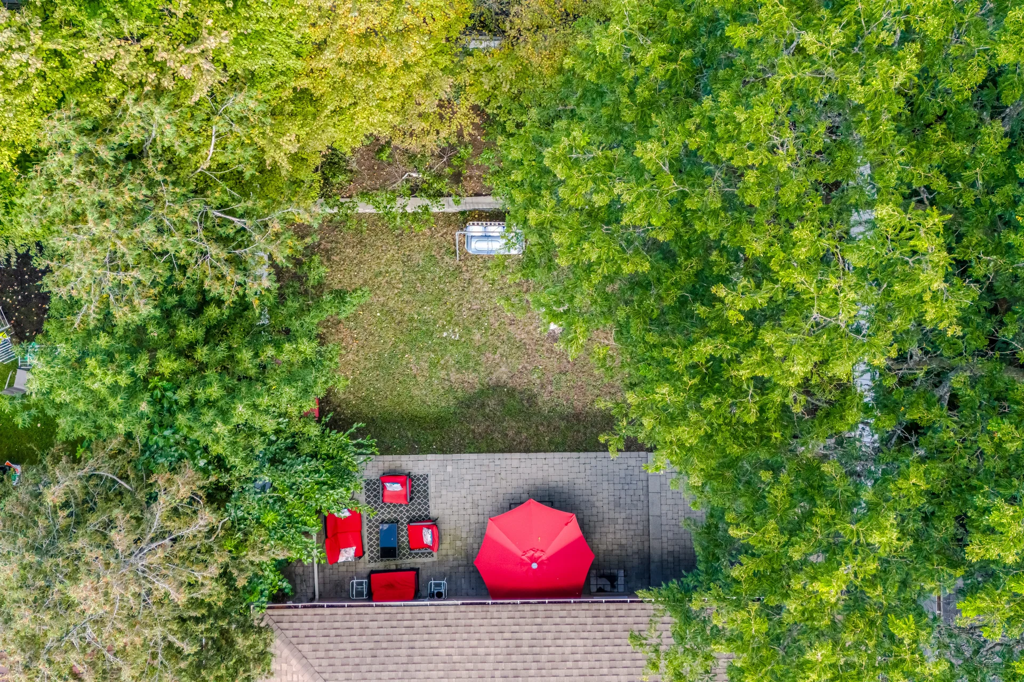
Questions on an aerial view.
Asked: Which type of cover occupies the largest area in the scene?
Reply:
trees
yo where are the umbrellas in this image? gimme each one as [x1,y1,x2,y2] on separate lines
[475,499,593,602]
